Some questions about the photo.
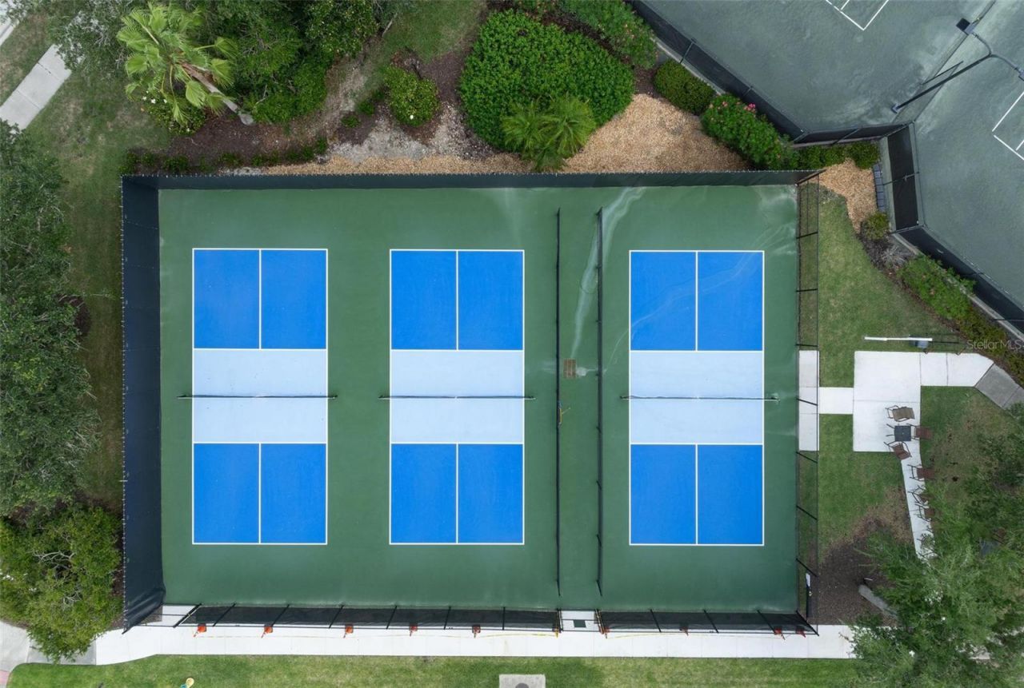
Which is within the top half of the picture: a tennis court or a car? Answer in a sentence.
The feature located within the top half of the picture is a tennis court.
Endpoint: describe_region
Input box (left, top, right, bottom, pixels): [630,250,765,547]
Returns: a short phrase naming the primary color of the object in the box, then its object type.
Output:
blue sports court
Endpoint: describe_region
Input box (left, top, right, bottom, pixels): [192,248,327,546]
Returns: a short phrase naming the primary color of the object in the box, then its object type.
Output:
blue sports court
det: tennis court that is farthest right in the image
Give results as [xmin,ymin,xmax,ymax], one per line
[880,0,1024,337]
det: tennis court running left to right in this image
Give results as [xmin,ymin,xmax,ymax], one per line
[607,0,991,146]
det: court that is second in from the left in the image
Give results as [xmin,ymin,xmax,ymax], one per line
[389,249,525,546]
